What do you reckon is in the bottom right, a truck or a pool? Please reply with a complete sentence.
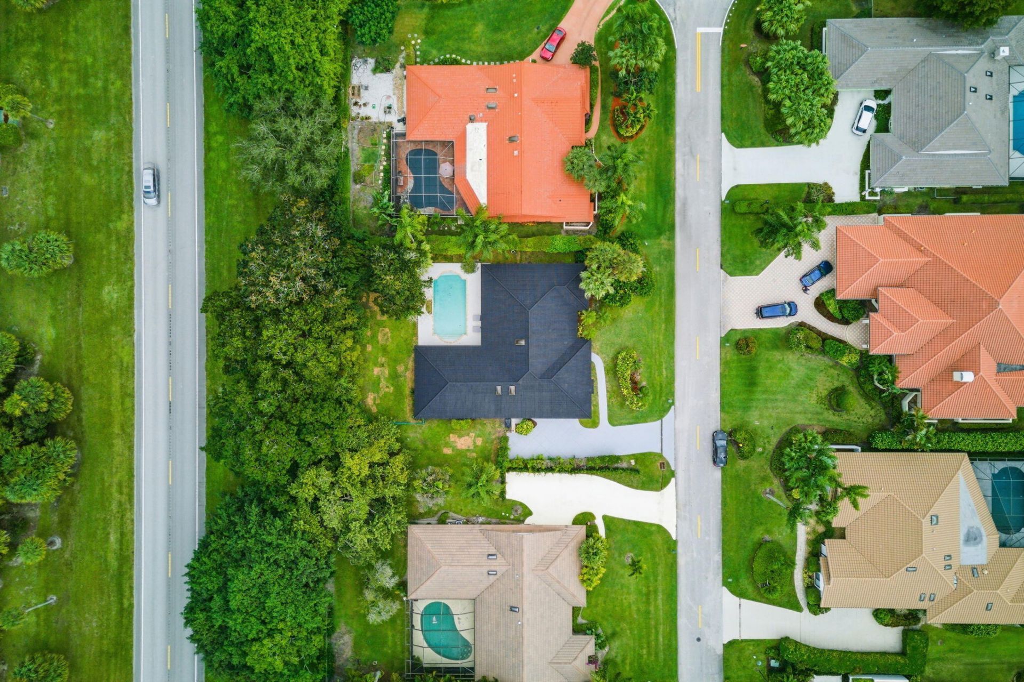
You can see a pool in the bottom right.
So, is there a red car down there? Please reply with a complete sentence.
Yes, you can see a red car in this photo.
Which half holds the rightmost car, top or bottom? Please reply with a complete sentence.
The top half of the photo is where the rightmost car is.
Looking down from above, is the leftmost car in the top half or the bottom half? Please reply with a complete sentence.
Seen from above, the leftmost car lies in the top half of the view.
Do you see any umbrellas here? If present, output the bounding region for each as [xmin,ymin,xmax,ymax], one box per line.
[439,163,453,177]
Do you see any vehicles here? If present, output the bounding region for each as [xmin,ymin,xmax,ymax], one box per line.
[141,166,161,204]
[757,300,796,319]
[711,430,729,467]
[851,98,877,136]
[541,25,567,61]
[798,260,834,288]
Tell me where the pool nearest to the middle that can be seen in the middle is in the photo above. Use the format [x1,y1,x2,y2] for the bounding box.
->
[418,263,481,345]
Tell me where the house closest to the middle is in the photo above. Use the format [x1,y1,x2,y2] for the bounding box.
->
[414,263,594,419]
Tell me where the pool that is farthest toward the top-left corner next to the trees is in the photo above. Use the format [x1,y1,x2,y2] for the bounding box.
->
[395,132,471,216]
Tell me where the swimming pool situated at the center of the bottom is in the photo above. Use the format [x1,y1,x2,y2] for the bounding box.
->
[413,599,475,673]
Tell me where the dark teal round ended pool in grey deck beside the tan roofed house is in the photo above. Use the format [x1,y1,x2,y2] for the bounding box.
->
[969,456,1024,547]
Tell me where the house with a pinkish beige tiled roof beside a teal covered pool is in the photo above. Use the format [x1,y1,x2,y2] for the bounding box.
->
[407,524,595,682]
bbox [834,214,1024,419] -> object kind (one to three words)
house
